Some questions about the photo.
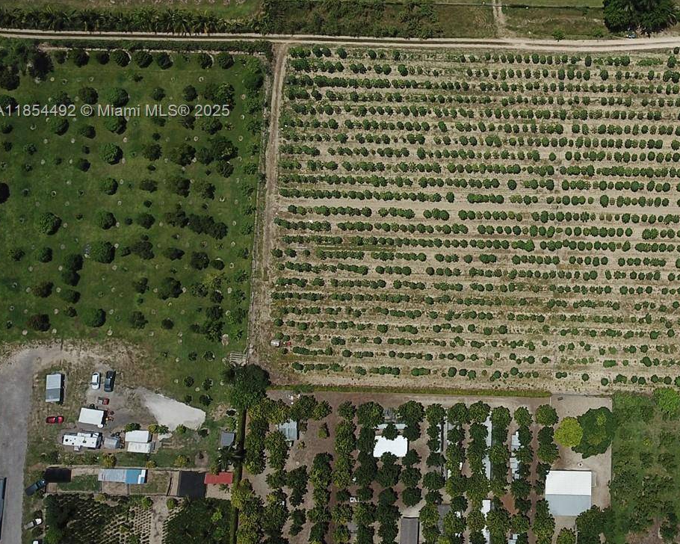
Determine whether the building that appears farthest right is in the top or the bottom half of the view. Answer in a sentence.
The building that appears farthest right is in the bottom half of the image.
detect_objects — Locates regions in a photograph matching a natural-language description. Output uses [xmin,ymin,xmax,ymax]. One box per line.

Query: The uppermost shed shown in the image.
[43,372,67,402]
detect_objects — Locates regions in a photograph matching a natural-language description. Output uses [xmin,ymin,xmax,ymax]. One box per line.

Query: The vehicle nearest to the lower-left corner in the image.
[22,516,43,532]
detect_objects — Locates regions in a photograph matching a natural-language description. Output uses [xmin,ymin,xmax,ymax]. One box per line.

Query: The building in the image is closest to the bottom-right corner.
[546,468,595,516]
